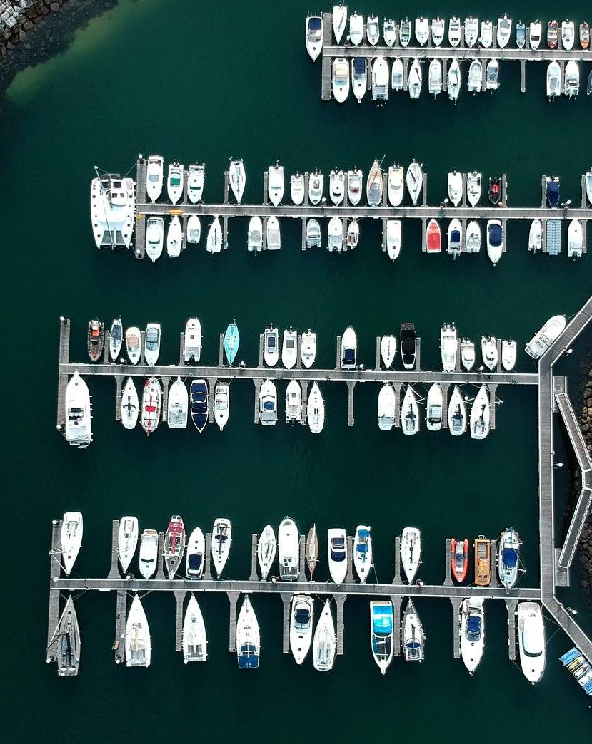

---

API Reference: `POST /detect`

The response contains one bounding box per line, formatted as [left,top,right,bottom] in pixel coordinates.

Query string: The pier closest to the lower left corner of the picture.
[47,590,60,662]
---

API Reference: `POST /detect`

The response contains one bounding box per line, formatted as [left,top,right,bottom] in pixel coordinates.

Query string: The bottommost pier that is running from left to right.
[50,578,541,600]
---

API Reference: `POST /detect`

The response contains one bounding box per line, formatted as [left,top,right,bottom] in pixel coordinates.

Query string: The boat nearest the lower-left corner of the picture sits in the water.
[50,594,86,676]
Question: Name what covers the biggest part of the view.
water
